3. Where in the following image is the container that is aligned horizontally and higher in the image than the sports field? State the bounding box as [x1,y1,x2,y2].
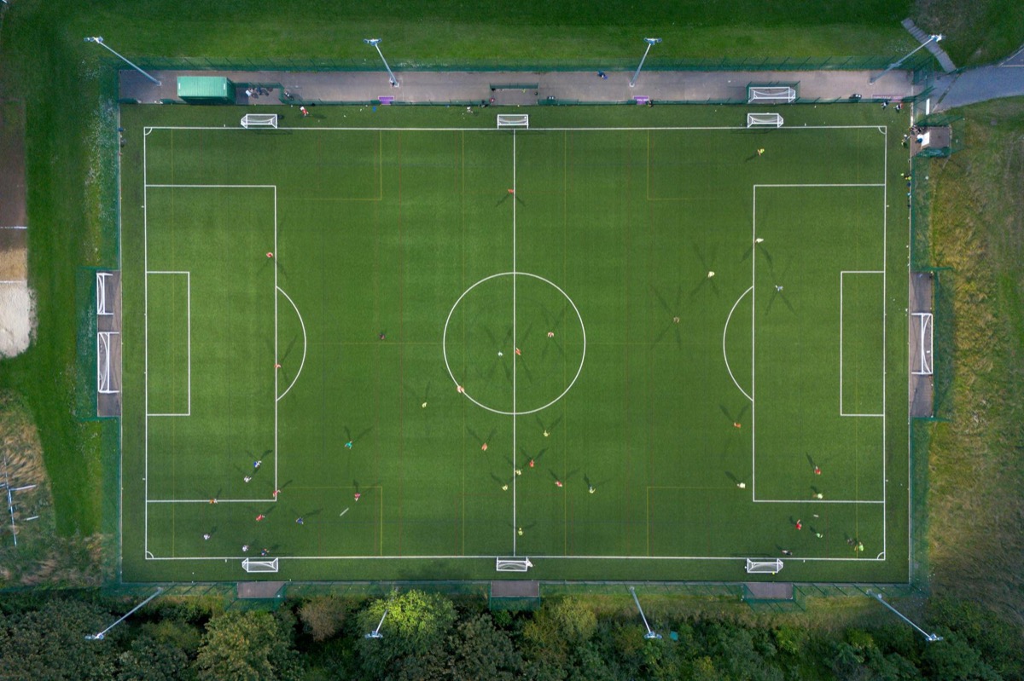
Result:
[178,76,234,102]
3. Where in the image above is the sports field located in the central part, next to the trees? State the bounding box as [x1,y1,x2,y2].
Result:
[145,129,885,560]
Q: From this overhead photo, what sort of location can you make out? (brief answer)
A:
sports ground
